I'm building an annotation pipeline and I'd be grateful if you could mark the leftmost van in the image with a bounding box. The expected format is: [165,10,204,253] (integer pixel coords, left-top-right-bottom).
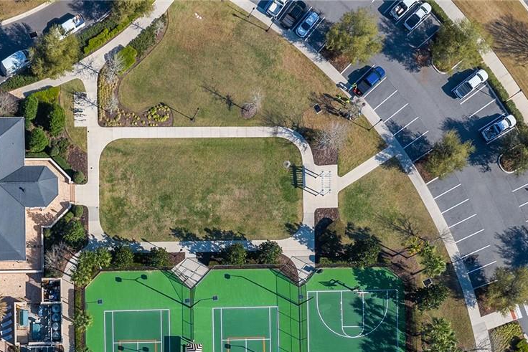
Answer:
[0,52,34,81]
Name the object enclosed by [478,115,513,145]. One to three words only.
truck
